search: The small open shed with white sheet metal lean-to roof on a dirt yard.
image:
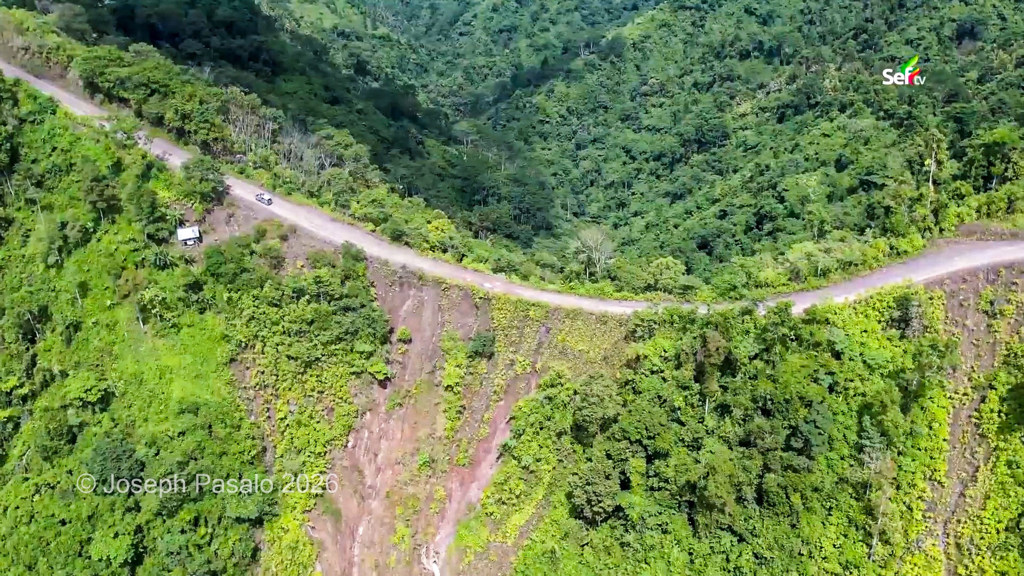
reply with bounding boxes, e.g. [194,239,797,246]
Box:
[174,224,200,249]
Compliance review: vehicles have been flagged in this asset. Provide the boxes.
[252,194,273,208]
